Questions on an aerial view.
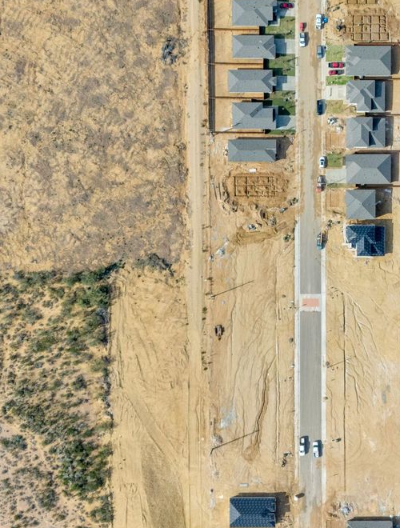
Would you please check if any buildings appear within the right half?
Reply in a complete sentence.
Yes, a building is visible within the right half.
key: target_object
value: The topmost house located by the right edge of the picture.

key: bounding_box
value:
[346,46,392,76]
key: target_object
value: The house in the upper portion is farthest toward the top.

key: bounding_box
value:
[232,0,277,26]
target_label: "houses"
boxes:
[228,69,277,93]
[346,154,392,184]
[232,102,278,129]
[229,138,278,162]
[232,0,277,26]
[232,34,276,59]
[346,80,386,113]
[341,224,386,258]
[230,494,277,528]
[346,117,386,147]
[346,46,392,76]
[346,519,393,528]
[345,189,375,218]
